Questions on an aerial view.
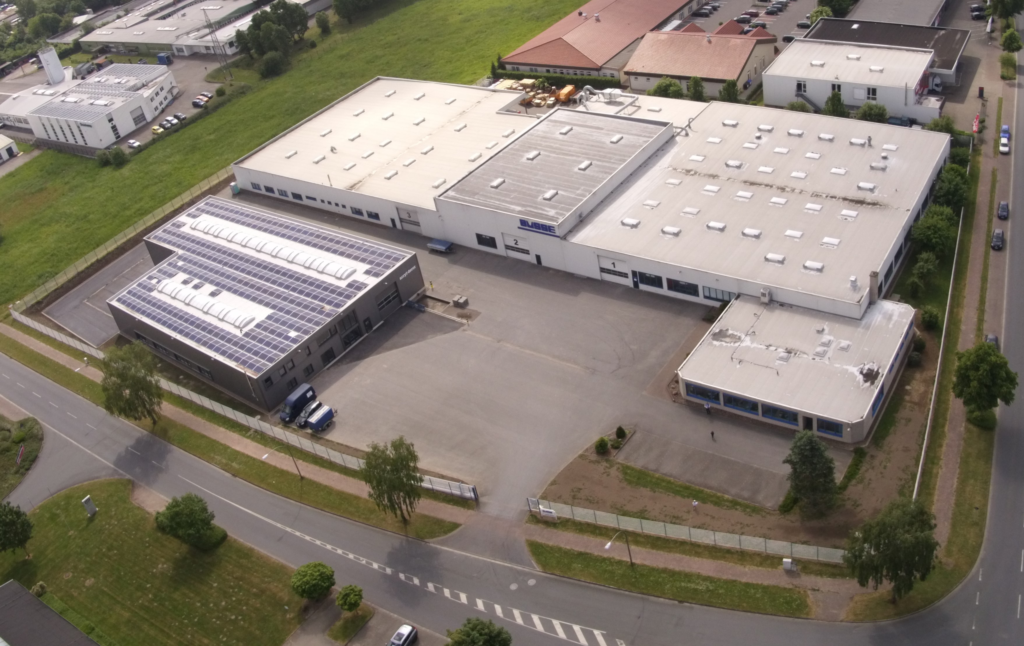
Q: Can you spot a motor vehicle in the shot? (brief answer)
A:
Yes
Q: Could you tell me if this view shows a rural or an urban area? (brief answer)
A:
urban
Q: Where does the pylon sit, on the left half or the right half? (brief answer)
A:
left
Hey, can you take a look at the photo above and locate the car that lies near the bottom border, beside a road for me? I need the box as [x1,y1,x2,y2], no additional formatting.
[383,615,425,646]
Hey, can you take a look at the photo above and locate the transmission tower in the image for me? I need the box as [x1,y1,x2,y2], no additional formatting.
[179,0,242,84]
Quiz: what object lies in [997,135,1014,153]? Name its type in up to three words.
car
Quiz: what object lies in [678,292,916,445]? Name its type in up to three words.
building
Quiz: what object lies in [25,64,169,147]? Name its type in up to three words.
building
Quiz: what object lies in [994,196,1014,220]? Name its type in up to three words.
car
